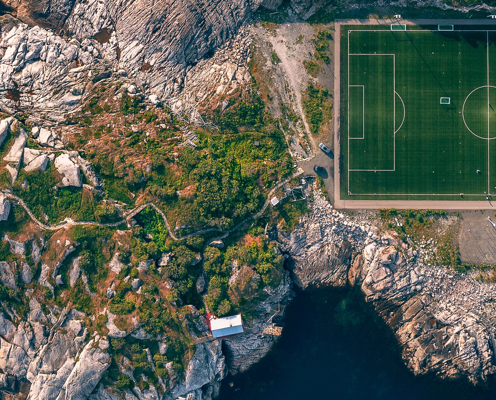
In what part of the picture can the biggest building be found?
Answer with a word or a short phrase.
bottom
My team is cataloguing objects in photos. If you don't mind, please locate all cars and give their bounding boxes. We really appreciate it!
[319,143,331,154]
[313,165,325,172]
